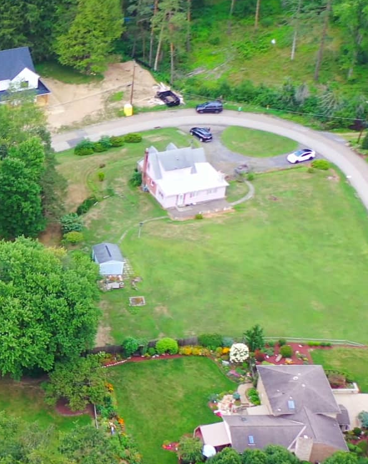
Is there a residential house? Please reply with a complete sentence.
Yes, the picture does show a residential house.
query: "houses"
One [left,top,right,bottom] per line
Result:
[199,365,359,464]
[126,134,231,209]
[0,48,44,106]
